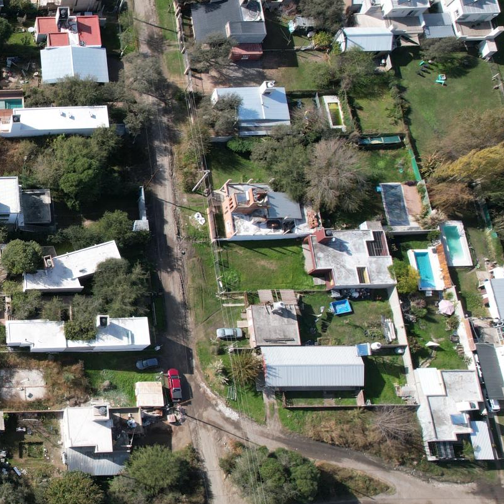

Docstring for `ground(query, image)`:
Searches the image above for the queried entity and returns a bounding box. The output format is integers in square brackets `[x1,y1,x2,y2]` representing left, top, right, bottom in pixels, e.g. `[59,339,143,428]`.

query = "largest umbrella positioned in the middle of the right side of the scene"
[436,295,455,313]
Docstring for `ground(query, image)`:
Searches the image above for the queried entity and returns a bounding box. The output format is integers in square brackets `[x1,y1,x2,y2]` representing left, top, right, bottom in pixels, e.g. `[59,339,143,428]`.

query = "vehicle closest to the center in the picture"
[215,326,244,340]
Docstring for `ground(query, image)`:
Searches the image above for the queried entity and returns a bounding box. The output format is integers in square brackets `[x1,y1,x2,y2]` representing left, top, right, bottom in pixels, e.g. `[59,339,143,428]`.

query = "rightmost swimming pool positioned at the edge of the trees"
[441,220,473,266]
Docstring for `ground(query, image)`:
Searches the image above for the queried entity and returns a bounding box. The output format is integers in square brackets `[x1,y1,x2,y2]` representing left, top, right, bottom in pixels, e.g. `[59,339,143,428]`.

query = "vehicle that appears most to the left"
[134,356,162,371]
